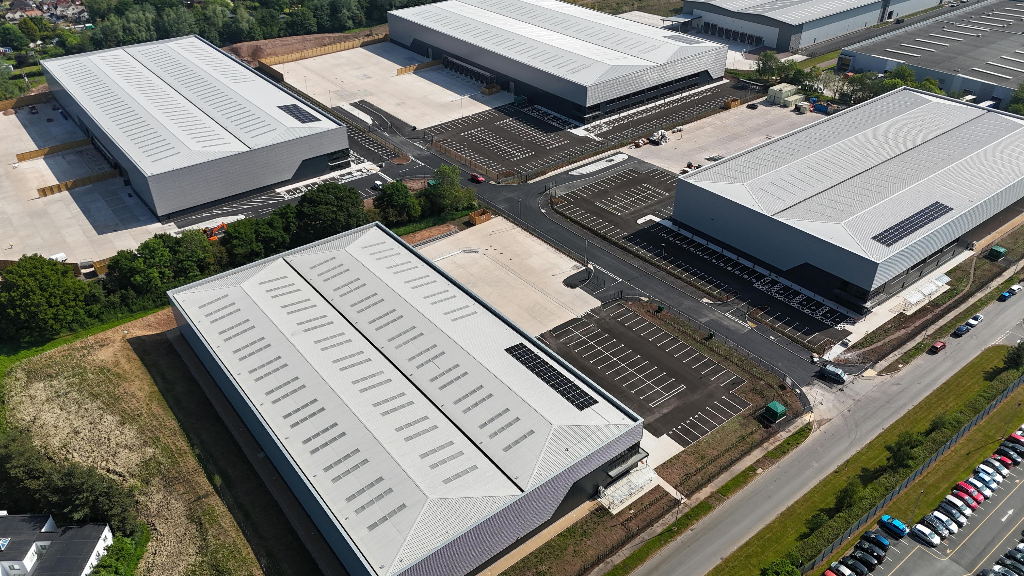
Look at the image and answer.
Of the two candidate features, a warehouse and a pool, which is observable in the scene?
warehouse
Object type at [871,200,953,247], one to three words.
solar array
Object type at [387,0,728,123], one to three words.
warehouse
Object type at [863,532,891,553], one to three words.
car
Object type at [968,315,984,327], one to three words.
vehicle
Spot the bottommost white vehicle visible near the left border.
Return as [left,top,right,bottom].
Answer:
[48,250,69,263]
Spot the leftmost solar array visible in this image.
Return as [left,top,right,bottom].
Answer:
[277,104,320,122]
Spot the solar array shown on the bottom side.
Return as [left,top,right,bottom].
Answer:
[504,344,599,410]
